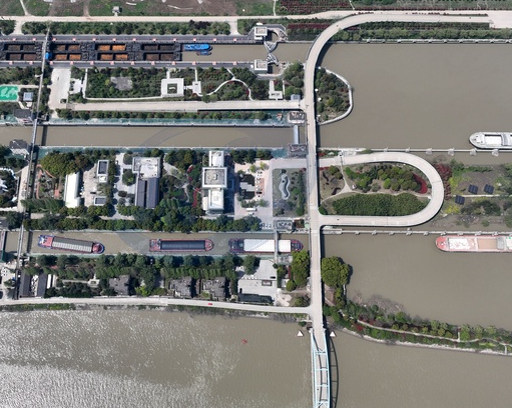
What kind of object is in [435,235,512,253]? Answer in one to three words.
ship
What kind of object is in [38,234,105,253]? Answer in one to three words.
ship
